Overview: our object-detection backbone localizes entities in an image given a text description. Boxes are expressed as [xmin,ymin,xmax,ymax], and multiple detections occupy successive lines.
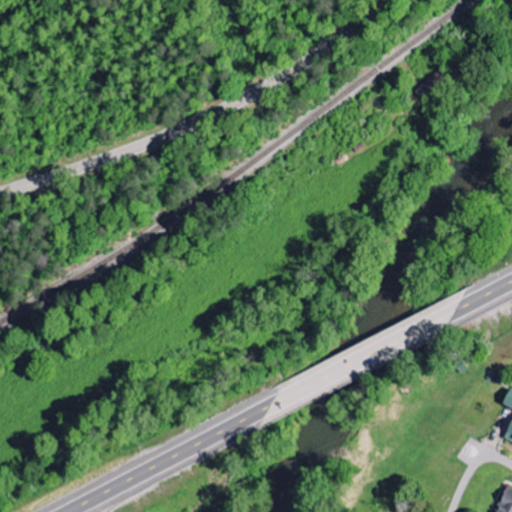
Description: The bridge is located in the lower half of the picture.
[256,283,474,431]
